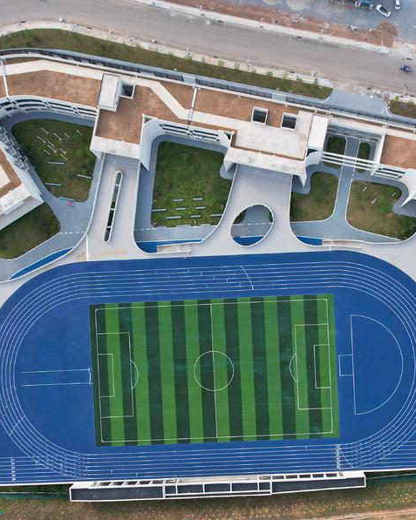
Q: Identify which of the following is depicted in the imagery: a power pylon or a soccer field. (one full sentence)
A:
The image shows a soccer field.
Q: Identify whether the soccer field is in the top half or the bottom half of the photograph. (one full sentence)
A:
You can find the soccer field in the bottom half.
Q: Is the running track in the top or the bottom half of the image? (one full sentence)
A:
The running track is in the bottom half of the image.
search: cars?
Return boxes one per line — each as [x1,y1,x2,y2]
[395,0,401,9]
[376,3,391,16]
